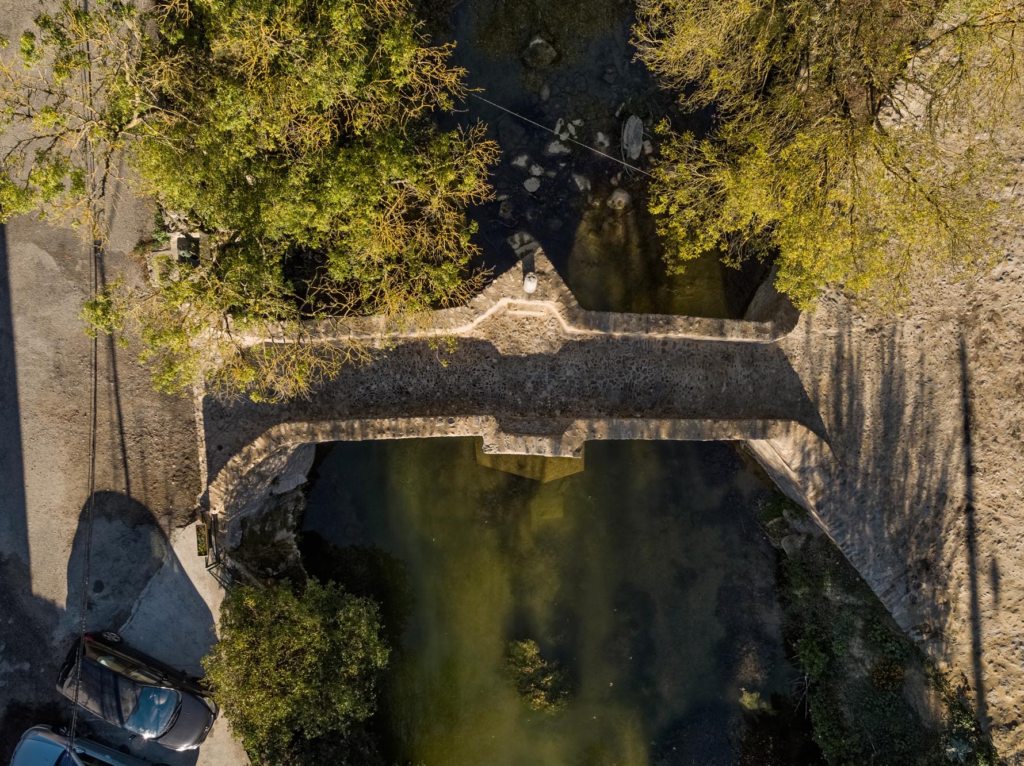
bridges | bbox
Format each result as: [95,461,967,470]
[195,231,843,520]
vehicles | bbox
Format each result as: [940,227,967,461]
[51,628,221,753]
[0,719,160,766]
